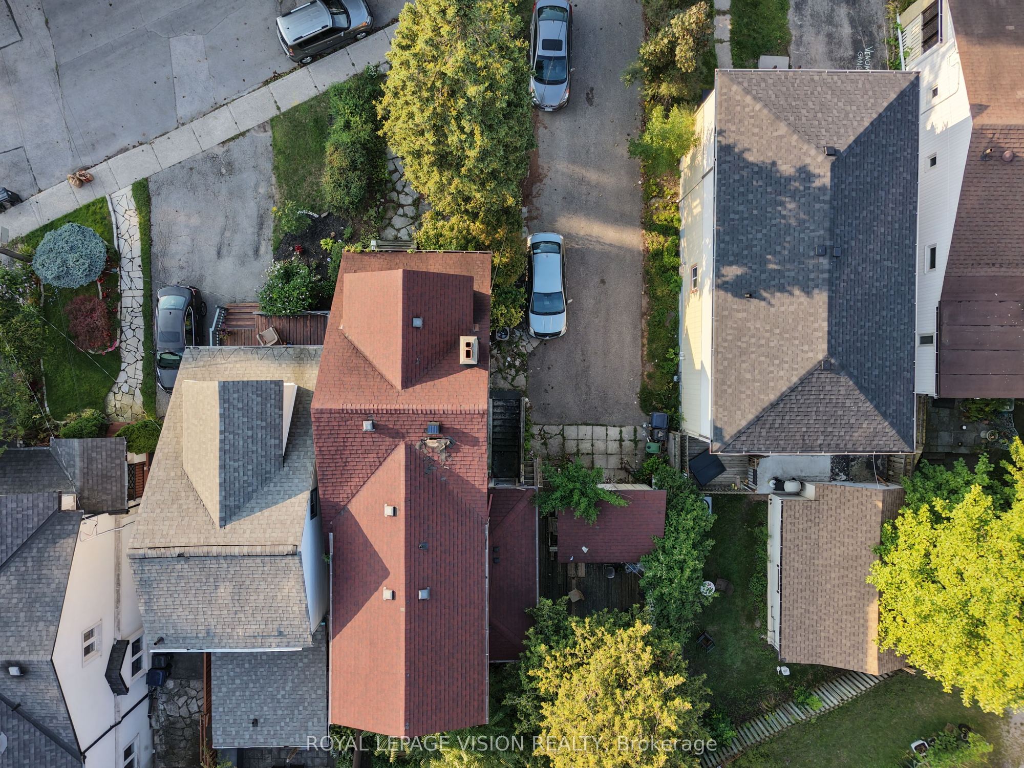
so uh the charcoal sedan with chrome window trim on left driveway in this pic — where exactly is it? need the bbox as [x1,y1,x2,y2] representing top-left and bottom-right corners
[150,284,208,393]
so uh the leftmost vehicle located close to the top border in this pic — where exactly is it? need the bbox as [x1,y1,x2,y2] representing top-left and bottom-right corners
[271,0,375,66]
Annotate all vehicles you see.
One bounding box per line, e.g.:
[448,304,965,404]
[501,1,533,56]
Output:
[529,0,577,109]
[525,233,572,340]
[271,0,375,66]
[150,284,208,393]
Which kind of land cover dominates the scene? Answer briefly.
buildings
